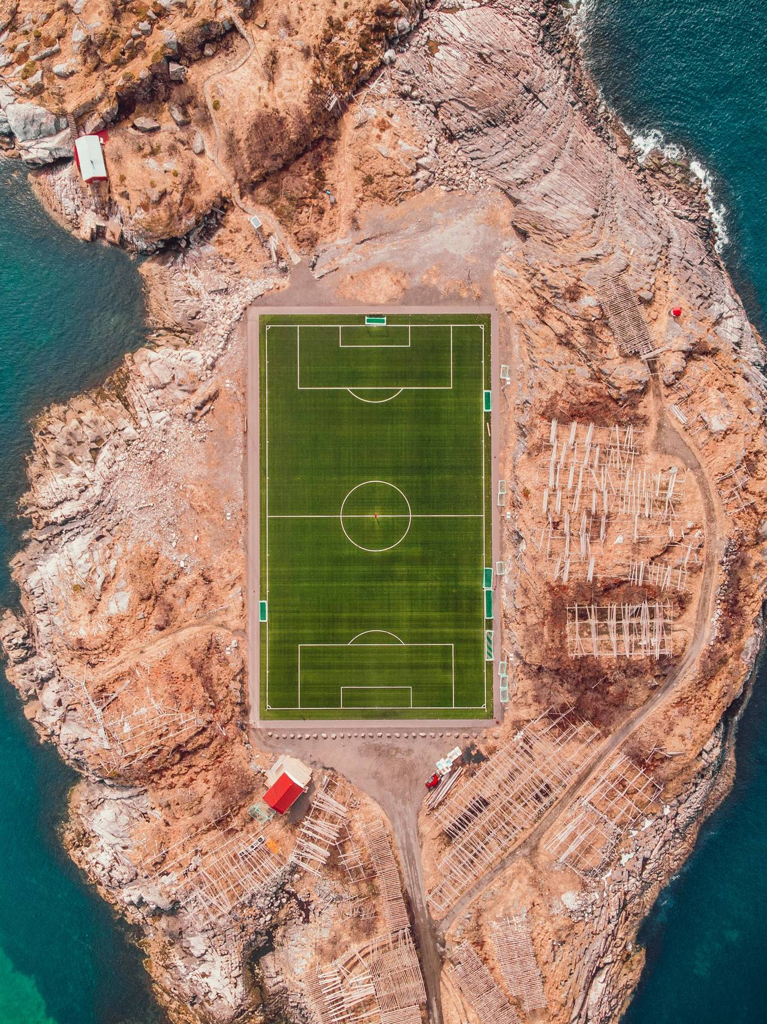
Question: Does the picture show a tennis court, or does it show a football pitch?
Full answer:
Of the two, only a football pitch appears.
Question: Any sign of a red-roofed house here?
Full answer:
Yes, a red-roofed house appears in the view.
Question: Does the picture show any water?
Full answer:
Yes, the picture does contain water.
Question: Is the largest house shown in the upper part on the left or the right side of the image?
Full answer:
It is on the left.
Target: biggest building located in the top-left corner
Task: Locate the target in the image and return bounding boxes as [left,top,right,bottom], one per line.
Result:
[76,136,109,190]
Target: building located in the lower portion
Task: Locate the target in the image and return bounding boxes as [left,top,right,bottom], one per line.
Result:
[263,770,304,815]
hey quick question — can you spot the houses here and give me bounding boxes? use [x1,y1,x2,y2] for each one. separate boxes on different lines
[76,136,109,190]
[263,770,304,815]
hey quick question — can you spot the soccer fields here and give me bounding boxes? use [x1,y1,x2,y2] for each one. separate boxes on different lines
[258,315,493,720]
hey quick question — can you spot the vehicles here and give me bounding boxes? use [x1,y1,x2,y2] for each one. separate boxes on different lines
[425,772,439,785]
